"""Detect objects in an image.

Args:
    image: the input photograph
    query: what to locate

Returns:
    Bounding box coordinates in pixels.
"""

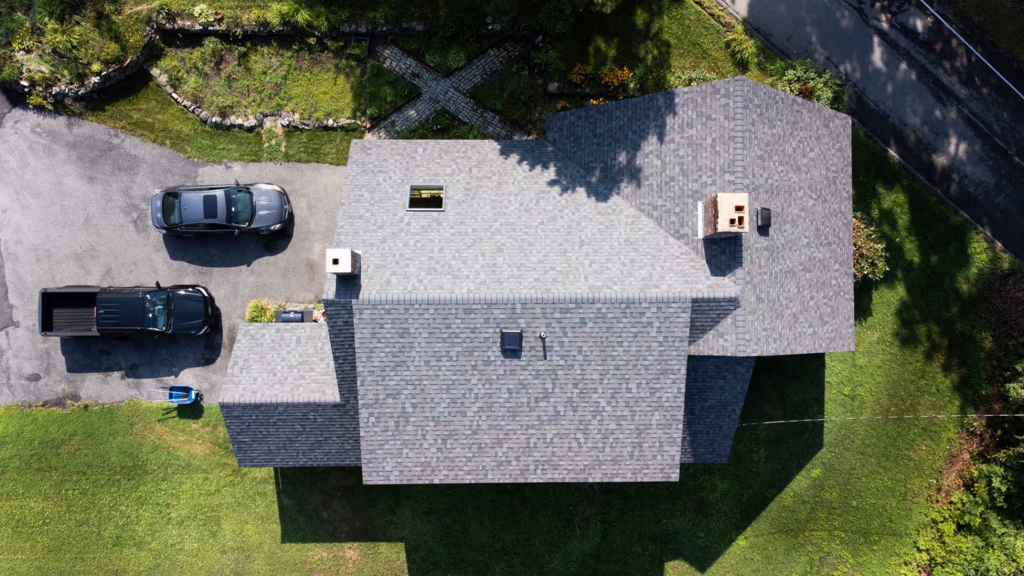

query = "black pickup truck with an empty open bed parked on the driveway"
[38,280,216,344]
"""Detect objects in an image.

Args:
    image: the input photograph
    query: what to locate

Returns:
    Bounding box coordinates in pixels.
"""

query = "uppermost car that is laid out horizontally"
[151,177,294,241]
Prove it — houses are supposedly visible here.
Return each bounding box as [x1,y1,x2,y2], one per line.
[218,78,855,484]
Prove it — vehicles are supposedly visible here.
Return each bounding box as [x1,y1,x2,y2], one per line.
[38,280,216,344]
[151,177,294,241]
